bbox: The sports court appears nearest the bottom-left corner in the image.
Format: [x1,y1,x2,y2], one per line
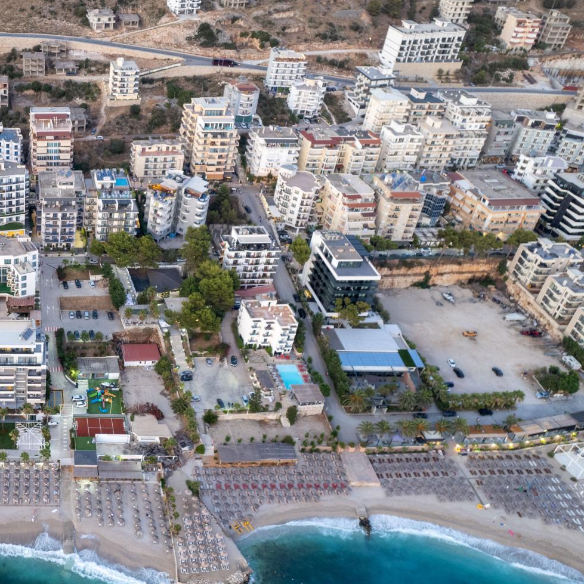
[75,418,125,436]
